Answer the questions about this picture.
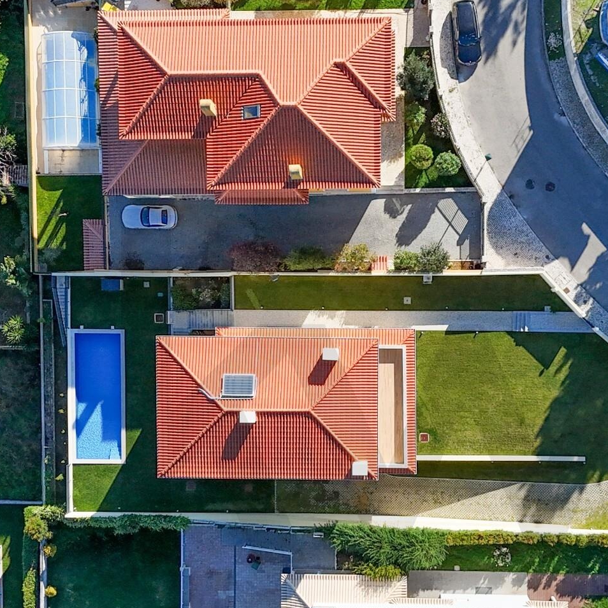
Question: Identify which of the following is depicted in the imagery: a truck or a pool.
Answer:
pool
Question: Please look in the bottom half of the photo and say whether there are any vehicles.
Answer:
No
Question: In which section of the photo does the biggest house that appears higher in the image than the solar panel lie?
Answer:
top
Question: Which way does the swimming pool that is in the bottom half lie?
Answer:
vertically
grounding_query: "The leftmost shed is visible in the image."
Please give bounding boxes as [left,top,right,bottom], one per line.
[81,217,119,272]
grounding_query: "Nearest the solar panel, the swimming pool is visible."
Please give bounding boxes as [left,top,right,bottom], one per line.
[70,328,127,465]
